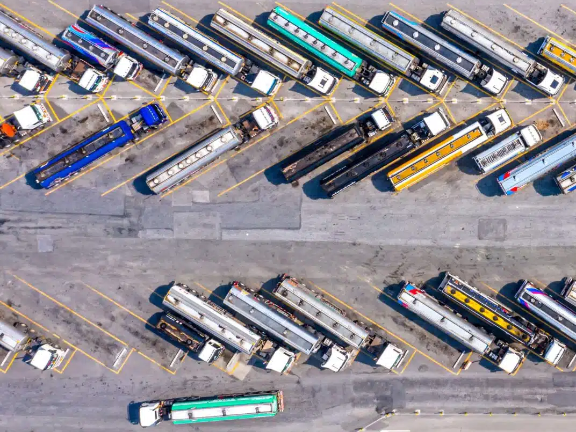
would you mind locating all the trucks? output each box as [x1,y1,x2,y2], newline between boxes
[549,162,576,193]
[226,278,357,373]
[150,8,285,97]
[323,107,452,197]
[165,279,302,374]
[88,5,220,90]
[63,25,148,82]
[213,10,344,95]
[0,304,70,371]
[269,6,398,97]
[388,105,517,189]
[399,276,524,374]
[441,271,568,364]
[0,3,114,91]
[0,101,57,145]
[495,132,576,193]
[158,306,230,362]
[276,272,407,370]
[35,101,173,187]
[147,103,284,192]
[537,37,576,75]
[442,9,566,97]
[283,104,399,182]
[384,10,510,97]
[0,41,59,92]
[472,119,544,173]
[515,277,576,339]
[140,388,288,426]
[320,6,450,92]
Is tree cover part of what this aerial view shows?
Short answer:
No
